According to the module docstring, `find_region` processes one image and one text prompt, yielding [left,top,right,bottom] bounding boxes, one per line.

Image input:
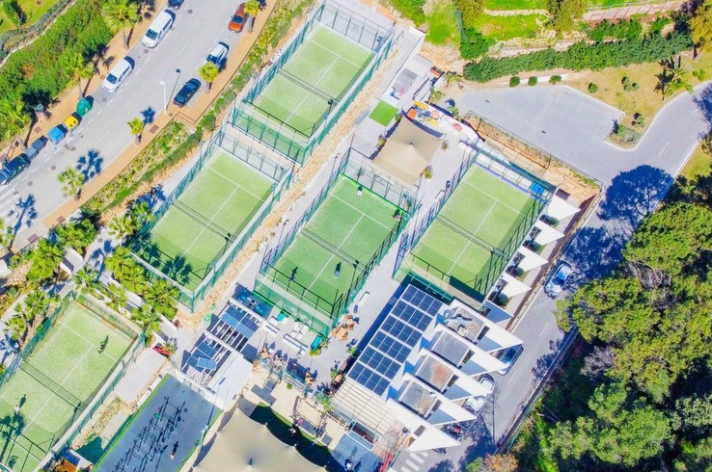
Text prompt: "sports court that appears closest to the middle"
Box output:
[250,155,423,338]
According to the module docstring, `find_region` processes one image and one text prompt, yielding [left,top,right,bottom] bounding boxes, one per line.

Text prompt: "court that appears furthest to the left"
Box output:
[0,286,149,472]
